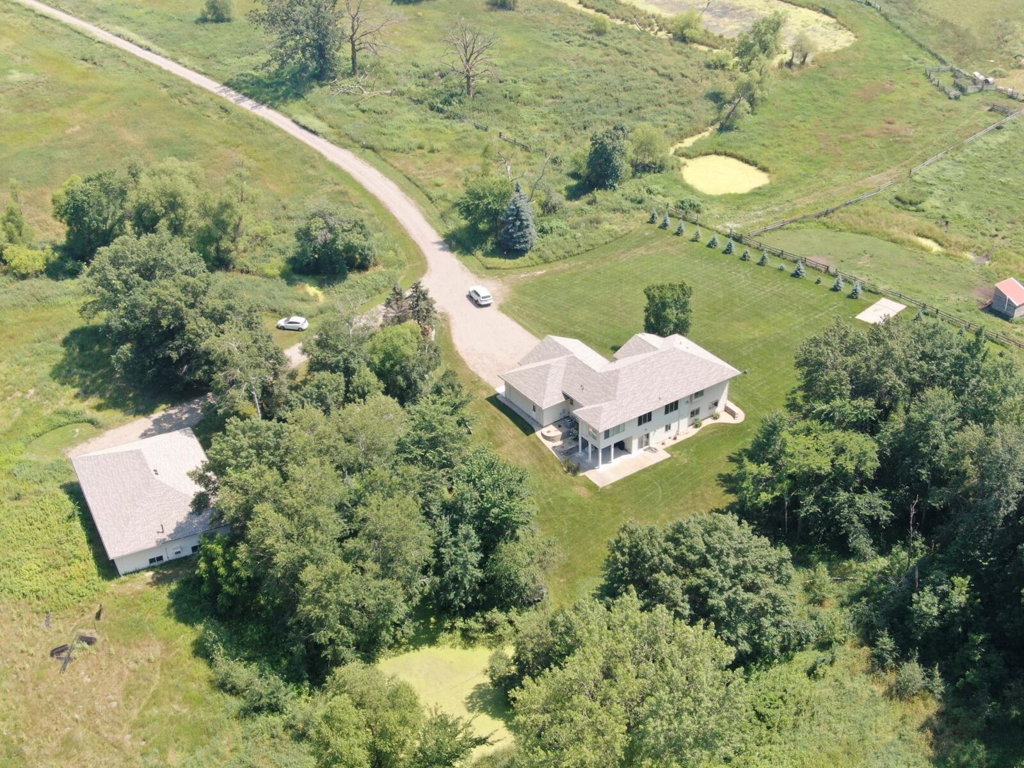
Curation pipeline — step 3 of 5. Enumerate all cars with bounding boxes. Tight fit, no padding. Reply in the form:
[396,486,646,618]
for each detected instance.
[276,316,308,332]
[469,288,494,307]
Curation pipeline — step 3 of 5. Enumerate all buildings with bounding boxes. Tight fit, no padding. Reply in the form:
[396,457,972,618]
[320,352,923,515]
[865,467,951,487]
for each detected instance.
[69,428,240,574]
[993,278,1024,316]
[496,333,742,468]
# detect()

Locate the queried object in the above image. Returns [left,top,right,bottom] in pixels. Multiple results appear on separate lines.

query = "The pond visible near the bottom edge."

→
[359,621,536,768]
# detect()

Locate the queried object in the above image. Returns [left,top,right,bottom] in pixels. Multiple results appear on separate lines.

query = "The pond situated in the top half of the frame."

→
[682,154,770,195]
